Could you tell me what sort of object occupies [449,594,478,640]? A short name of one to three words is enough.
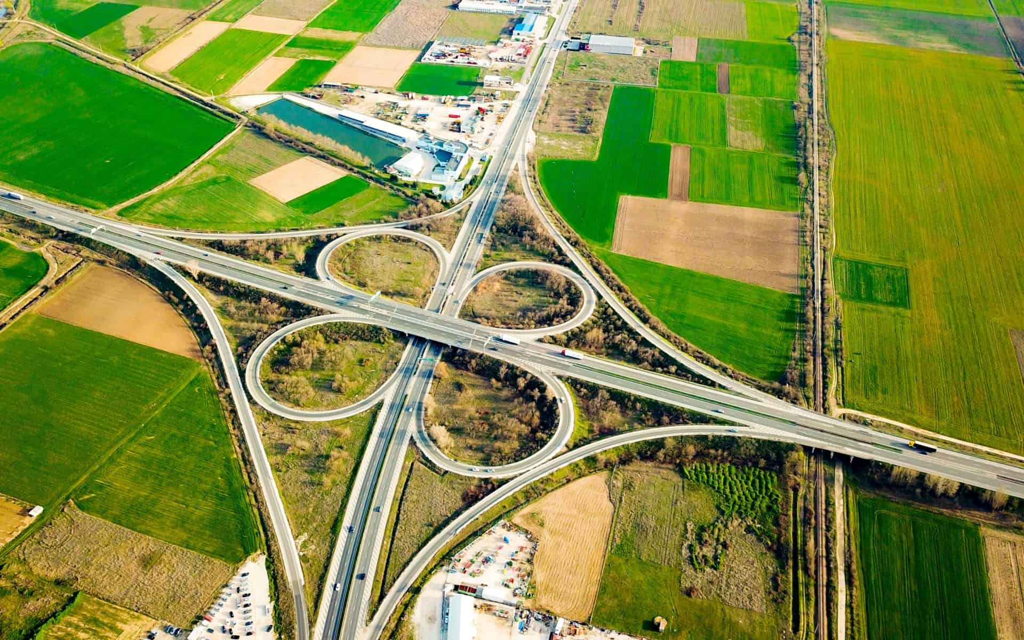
building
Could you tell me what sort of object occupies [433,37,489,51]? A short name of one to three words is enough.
greenhouse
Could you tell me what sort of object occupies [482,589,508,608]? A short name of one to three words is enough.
shed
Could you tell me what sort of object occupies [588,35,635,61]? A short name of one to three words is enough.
building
